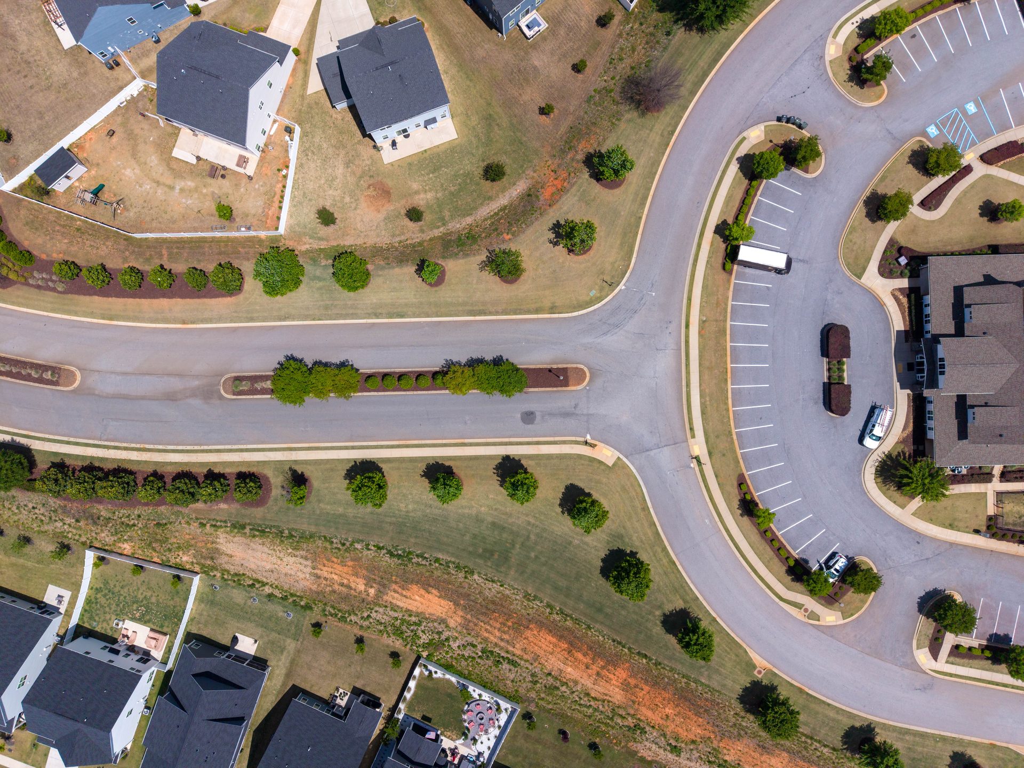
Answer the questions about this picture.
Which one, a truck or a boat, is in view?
truck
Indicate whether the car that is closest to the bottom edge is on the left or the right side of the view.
right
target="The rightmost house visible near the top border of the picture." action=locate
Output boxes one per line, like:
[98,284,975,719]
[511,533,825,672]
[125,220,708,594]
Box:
[476,0,543,41]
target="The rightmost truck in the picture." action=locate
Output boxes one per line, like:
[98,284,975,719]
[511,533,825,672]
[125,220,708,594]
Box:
[863,405,897,450]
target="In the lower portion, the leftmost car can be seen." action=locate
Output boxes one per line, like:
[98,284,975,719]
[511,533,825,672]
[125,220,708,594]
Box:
[822,554,850,590]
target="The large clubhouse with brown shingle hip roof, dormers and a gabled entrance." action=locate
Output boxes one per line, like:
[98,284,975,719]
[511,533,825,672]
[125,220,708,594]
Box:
[908,253,1024,466]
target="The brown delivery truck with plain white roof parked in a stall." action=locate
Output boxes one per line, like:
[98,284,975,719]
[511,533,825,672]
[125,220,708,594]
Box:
[730,244,788,272]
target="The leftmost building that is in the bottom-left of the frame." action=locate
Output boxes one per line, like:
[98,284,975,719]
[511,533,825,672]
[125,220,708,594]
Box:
[0,583,70,745]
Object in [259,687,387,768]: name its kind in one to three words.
house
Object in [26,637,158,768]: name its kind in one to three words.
house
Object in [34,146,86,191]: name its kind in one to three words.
shed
